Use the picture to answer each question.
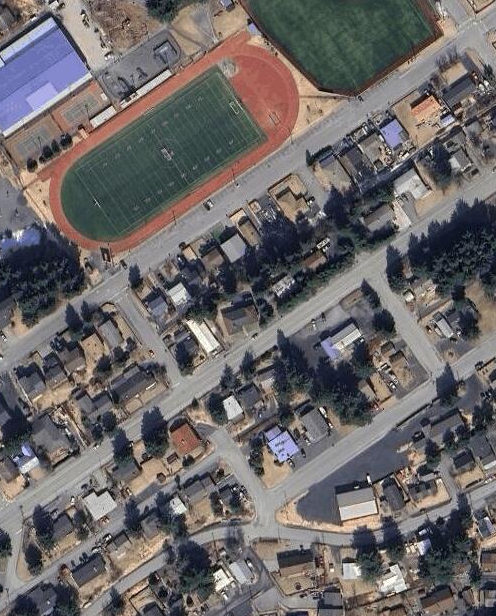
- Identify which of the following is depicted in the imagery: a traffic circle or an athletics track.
athletics track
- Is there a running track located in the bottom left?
No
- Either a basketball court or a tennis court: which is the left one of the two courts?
basketball court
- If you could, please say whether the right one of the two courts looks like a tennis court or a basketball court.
basketball court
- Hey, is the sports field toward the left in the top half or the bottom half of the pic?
top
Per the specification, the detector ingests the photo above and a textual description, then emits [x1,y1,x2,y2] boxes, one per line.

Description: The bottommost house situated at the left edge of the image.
[21,583,60,616]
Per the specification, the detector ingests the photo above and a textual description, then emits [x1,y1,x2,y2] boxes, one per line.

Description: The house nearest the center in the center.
[216,290,262,337]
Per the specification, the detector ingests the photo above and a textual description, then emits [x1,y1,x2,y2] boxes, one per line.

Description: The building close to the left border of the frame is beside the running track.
[0,20,92,138]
